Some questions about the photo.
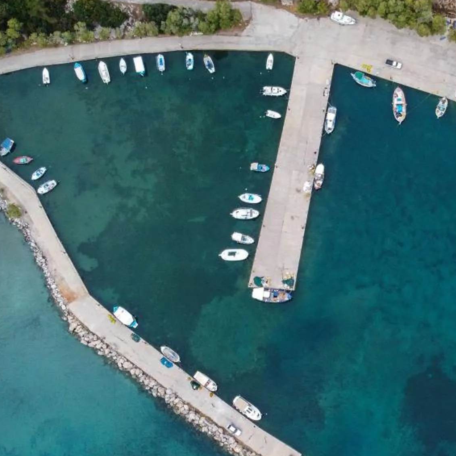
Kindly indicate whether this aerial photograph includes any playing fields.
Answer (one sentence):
No, there isn't any playing field down there.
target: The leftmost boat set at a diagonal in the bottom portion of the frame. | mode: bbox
[113,304,141,327]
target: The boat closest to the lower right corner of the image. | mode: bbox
[233,396,261,417]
